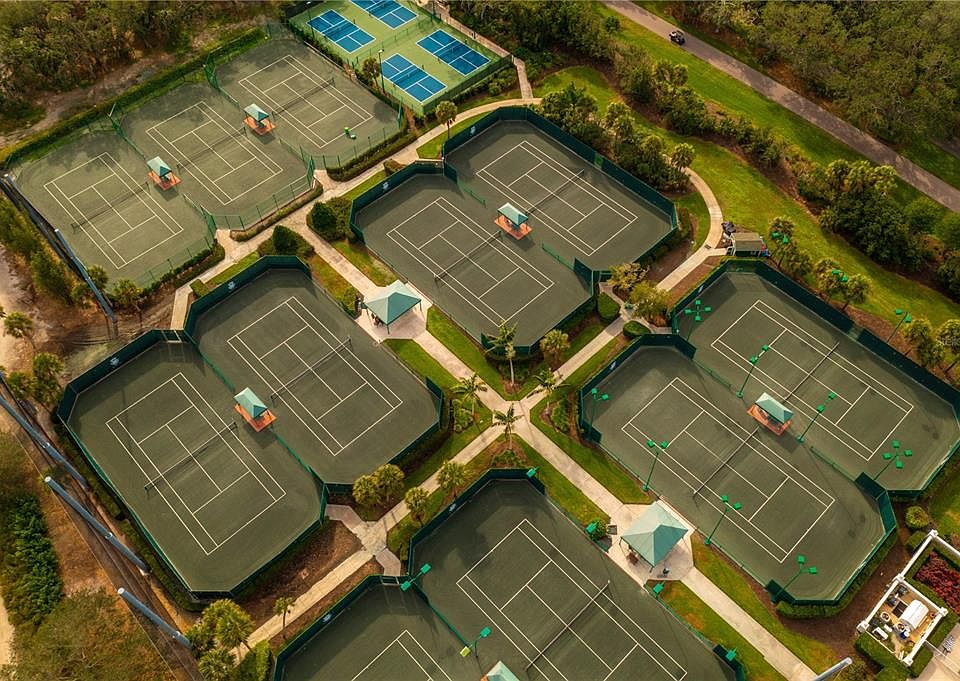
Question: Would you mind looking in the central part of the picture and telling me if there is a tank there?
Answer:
No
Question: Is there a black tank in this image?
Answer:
No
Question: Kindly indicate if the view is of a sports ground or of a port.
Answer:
sports ground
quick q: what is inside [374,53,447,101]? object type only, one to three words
sports court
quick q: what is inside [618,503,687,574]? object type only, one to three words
gazebo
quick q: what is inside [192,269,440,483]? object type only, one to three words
tennis court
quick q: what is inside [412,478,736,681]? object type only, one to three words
tennis court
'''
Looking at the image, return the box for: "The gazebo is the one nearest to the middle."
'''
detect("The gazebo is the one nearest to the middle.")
[365,280,422,335]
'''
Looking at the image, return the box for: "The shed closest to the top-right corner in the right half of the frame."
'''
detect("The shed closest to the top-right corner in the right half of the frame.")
[731,236,765,259]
